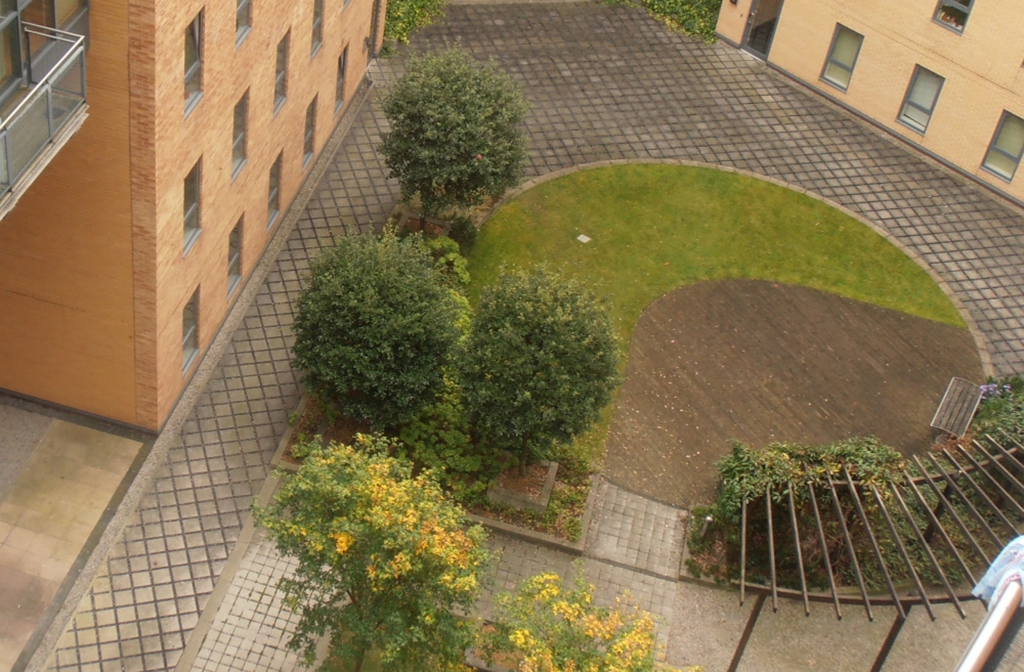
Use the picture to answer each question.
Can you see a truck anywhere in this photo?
No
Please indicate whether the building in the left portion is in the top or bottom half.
top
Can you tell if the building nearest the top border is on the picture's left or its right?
right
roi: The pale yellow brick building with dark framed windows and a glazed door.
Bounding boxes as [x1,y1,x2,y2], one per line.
[716,0,1024,210]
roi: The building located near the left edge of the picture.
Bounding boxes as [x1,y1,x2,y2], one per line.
[0,0,386,437]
